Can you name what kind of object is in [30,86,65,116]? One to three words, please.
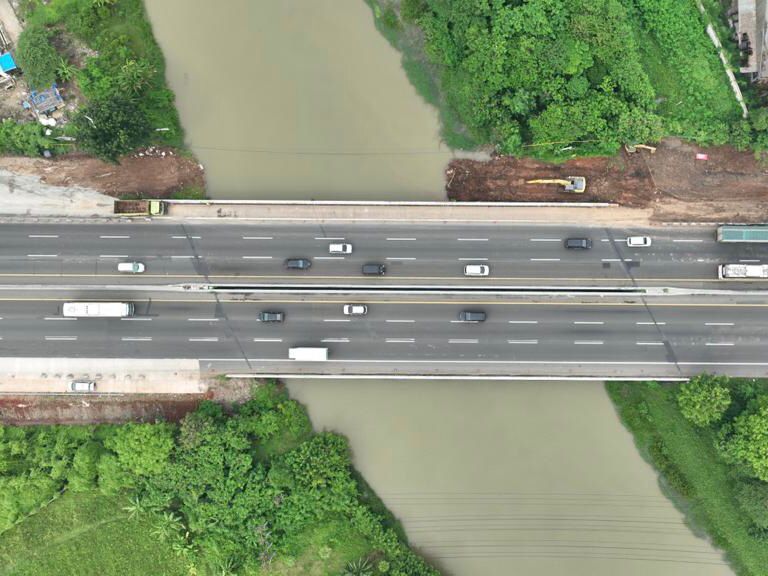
shed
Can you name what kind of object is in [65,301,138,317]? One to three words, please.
vehicle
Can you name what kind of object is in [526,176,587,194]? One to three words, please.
work vehicle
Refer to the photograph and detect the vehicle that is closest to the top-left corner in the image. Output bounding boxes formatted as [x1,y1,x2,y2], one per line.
[111,200,167,215]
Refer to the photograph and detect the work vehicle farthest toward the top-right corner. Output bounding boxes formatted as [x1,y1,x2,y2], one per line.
[623,144,655,156]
